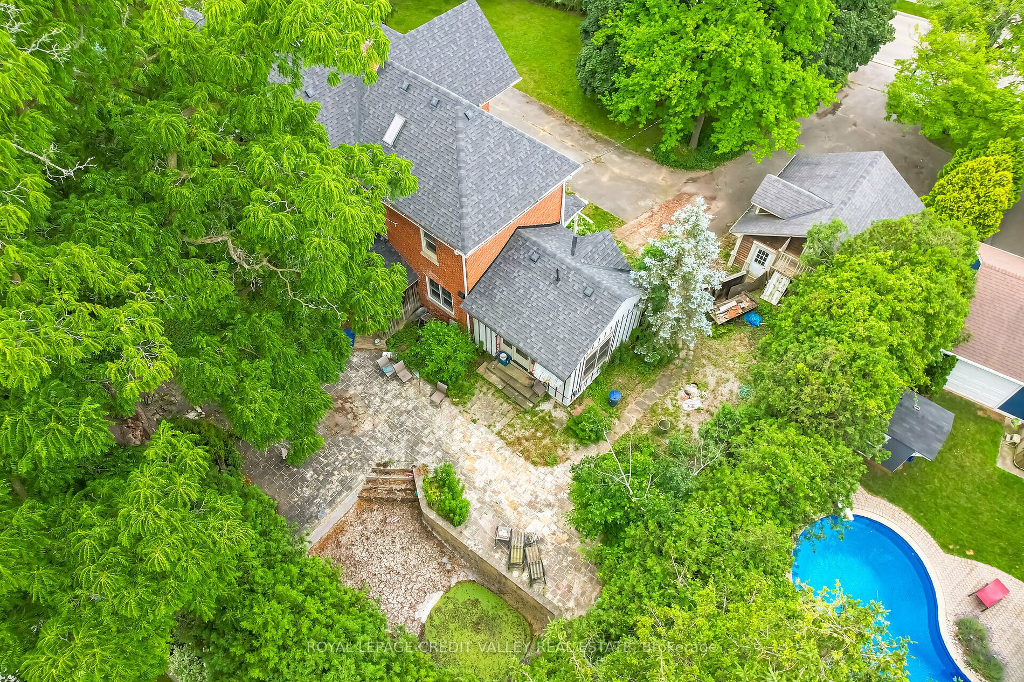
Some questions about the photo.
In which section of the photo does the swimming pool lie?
bottom right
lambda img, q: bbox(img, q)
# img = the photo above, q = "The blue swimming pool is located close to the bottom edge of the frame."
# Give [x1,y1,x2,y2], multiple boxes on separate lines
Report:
[783,506,981,682]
